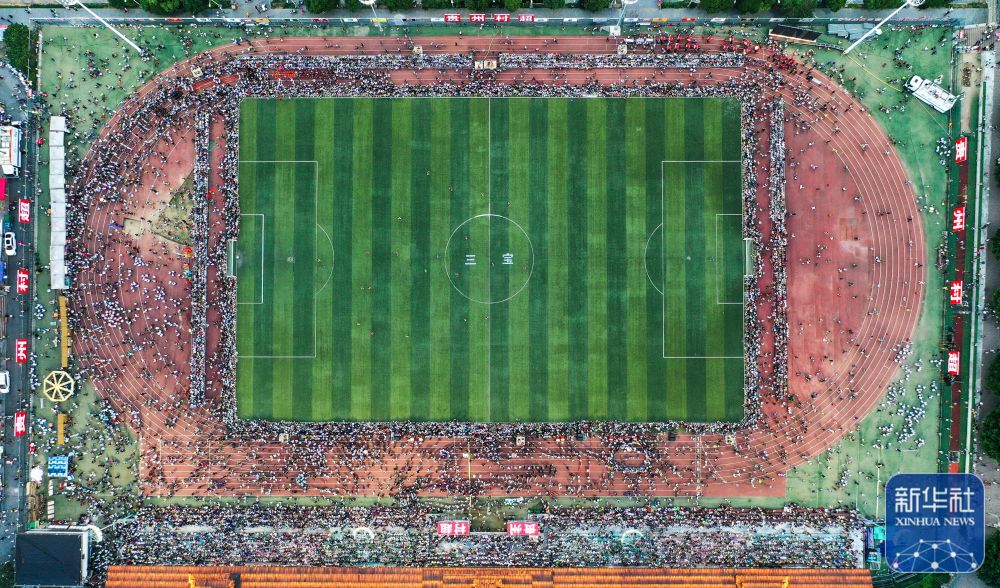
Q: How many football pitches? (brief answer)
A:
1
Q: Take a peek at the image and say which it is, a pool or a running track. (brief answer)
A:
running track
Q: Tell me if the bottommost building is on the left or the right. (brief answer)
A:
left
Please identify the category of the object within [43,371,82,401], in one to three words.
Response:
gazebo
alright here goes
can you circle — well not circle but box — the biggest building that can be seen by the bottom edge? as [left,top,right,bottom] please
[14,517,98,585]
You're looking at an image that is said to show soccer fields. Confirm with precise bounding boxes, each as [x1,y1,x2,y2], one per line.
[235,95,746,423]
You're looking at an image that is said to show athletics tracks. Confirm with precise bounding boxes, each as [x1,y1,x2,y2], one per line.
[62,35,924,497]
